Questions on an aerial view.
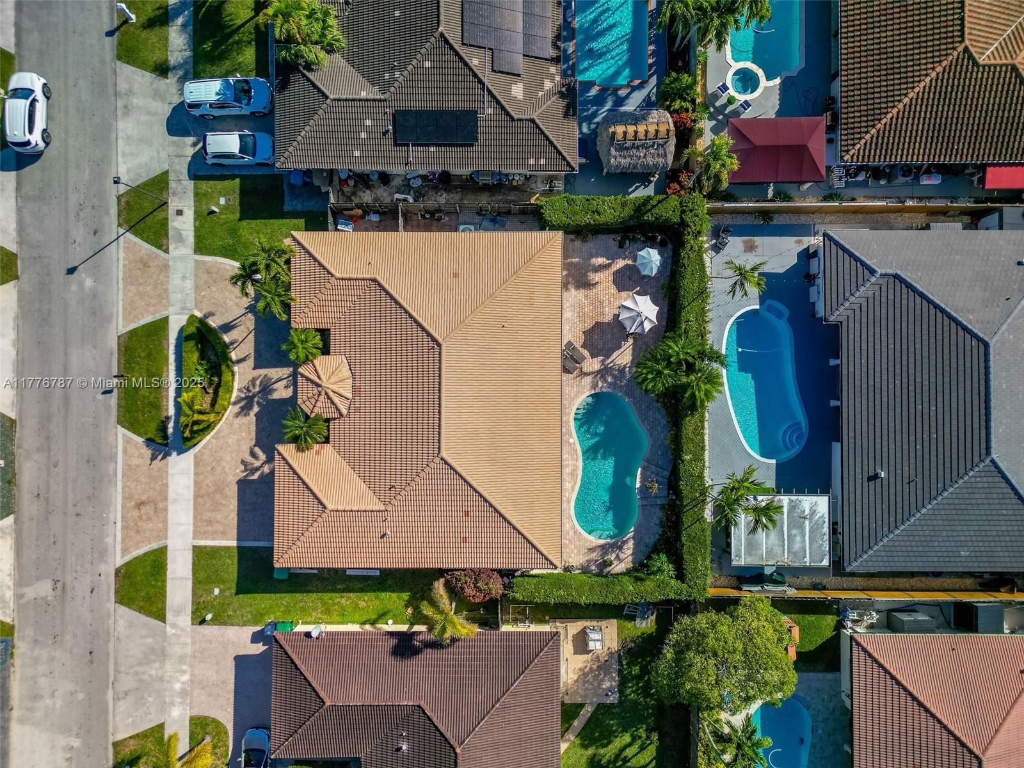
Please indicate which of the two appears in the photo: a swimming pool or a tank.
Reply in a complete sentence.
Looking from above, you can make out a swimming pool.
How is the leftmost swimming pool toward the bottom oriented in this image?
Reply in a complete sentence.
The leftmost swimming pool toward the bottom is oriented vertically.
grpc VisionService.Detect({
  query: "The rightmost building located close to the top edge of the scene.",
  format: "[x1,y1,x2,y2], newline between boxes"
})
[825,0,1024,171]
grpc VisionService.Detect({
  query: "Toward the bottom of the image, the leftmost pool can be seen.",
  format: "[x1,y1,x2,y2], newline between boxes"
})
[571,390,650,542]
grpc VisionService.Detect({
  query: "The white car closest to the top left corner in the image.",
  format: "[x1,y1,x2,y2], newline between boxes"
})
[4,72,52,150]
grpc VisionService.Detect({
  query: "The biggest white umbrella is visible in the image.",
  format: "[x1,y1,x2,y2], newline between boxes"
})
[615,292,659,346]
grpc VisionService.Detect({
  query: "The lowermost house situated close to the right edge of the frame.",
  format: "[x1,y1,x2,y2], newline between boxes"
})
[834,623,1024,768]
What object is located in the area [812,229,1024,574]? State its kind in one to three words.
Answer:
house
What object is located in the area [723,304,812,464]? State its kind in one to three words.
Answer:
swimming pool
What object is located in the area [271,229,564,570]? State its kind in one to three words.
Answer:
house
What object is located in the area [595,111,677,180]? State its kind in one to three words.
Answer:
shed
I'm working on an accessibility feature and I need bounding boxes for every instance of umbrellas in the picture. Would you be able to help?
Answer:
[615,292,659,346]
[634,250,660,276]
